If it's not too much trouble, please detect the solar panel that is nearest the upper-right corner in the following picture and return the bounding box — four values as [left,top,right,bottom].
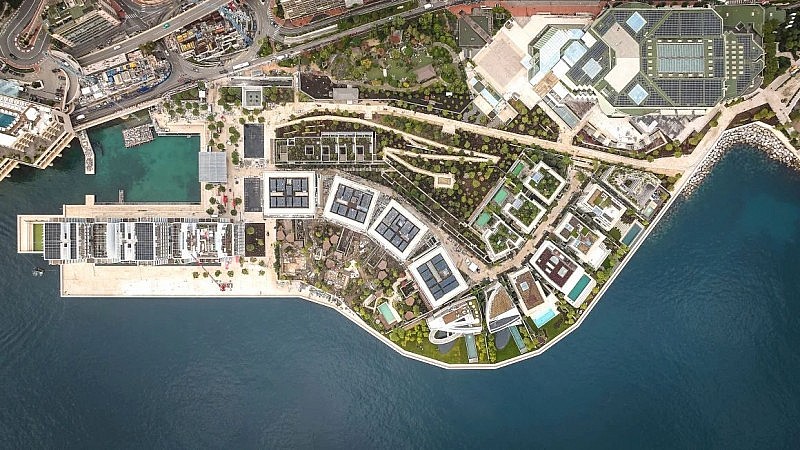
[738,36,762,59]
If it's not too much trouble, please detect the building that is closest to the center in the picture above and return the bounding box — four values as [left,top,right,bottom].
[368,198,428,259]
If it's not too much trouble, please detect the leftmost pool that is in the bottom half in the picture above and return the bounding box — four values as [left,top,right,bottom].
[376,302,398,326]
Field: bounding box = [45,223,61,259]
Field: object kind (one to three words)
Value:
solar panel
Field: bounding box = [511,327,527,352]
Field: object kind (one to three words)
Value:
swimming pool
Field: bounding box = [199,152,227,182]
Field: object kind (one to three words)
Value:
building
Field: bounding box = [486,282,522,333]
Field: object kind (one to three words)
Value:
house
